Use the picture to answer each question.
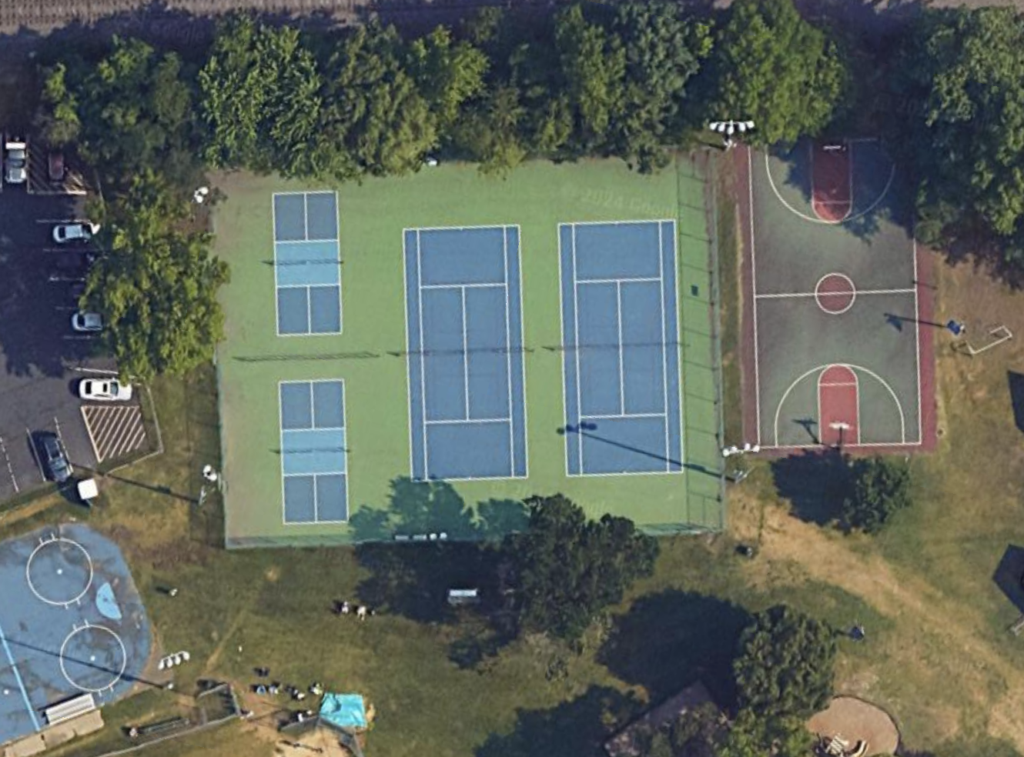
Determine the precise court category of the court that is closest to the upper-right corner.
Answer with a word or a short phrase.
basketball court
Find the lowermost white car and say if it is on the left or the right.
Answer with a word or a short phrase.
left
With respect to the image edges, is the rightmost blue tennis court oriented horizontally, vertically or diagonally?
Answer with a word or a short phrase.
vertically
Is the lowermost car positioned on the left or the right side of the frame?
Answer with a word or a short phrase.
left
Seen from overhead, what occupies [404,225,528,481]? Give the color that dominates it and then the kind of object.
blue tennis court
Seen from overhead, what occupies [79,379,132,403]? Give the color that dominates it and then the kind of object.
white car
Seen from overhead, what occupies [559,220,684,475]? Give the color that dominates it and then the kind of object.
blue tennis court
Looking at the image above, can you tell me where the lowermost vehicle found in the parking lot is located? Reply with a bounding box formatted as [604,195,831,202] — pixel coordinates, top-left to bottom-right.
[40,431,72,485]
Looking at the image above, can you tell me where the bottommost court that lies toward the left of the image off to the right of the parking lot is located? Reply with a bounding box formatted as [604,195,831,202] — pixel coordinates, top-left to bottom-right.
[279,380,349,524]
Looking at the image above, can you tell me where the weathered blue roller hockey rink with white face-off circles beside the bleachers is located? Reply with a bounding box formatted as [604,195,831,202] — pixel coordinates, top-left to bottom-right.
[0,525,151,745]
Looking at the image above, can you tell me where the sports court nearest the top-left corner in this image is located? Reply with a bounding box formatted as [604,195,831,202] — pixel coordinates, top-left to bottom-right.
[272,191,342,335]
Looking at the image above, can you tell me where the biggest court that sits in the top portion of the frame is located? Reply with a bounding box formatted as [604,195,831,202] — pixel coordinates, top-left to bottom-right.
[734,129,939,459]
